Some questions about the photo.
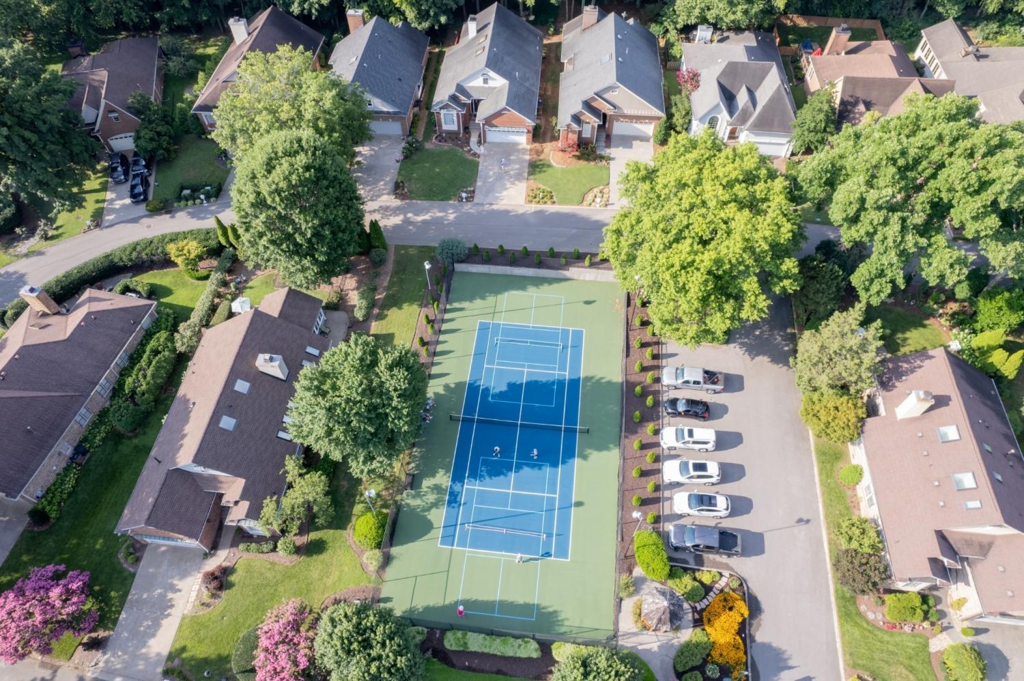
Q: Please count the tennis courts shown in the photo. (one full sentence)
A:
The count comes to 1 tennis court.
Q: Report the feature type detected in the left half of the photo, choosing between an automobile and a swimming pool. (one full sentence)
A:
There is an automobile in the left half of the photo.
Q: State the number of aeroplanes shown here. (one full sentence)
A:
The count of aeroplanes is 0.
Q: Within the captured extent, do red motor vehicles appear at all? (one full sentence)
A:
No, no red motor vehicle can be seen from above.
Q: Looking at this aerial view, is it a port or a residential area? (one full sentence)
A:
This looks like a residential area.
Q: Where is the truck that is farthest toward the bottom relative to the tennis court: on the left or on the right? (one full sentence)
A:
In the image, the truck that is farthest toward the bottom sits on the right side of the tennis court.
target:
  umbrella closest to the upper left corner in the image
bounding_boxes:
[230,296,257,316]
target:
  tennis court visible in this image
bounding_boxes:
[383,269,624,642]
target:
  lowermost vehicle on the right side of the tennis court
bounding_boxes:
[668,525,745,561]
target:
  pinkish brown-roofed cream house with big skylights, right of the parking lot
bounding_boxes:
[851,349,1024,636]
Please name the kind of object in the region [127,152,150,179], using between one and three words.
car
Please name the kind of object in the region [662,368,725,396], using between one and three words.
truck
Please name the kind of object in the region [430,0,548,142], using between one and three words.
house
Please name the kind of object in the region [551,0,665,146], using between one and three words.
house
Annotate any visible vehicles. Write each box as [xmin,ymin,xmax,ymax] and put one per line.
[664,397,709,423]
[668,525,745,561]
[128,173,150,204]
[662,459,721,489]
[672,491,731,523]
[127,152,150,179]
[662,368,725,396]
[107,153,130,186]
[659,426,717,456]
